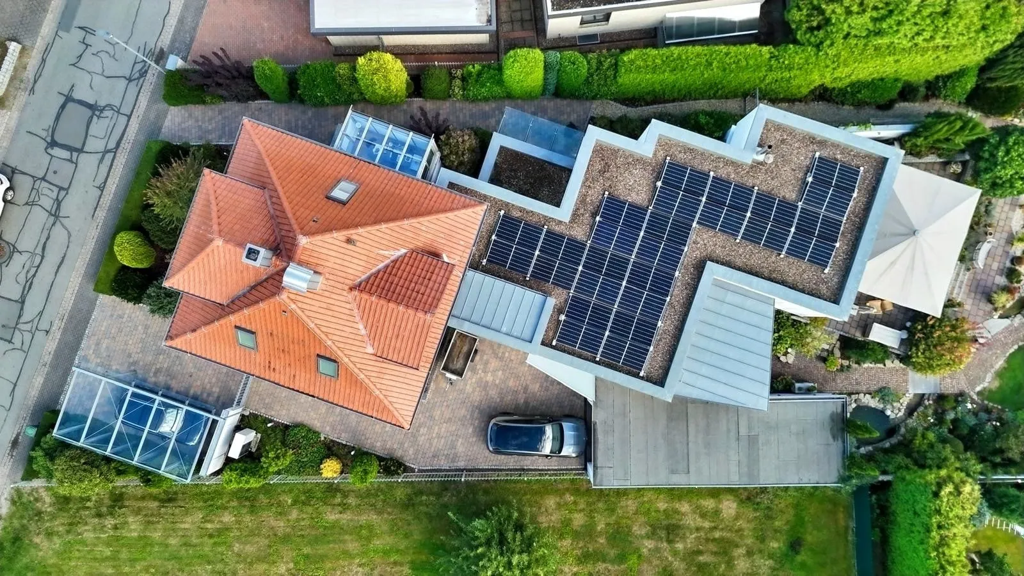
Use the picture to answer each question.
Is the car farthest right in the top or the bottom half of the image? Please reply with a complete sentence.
It is in the bottom half that the car farthest right appears.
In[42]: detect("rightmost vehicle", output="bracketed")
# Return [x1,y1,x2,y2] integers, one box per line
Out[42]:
[489,412,584,464]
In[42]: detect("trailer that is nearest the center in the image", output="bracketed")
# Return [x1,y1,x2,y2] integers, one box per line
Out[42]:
[440,330,479,390]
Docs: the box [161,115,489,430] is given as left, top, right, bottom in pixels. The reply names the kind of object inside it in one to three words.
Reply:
house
